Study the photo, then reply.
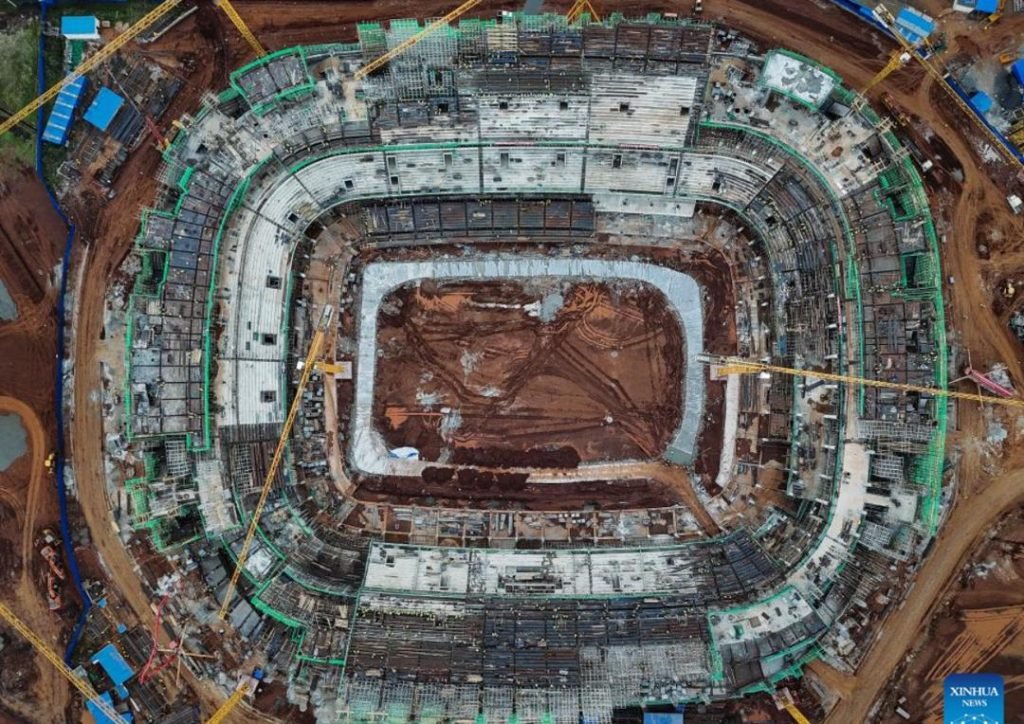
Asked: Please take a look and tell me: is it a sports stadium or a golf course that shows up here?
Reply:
sports stadium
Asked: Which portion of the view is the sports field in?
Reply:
center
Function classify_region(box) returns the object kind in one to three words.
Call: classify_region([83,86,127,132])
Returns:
shed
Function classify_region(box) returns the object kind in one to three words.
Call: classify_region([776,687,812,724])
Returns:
crane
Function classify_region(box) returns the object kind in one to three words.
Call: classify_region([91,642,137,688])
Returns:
shed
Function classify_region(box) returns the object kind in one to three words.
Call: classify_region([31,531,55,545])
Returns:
work vehicle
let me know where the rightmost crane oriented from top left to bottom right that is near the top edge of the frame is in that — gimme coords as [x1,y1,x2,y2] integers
[855,7,1024,165]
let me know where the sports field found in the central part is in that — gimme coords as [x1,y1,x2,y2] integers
[352,256,708,486]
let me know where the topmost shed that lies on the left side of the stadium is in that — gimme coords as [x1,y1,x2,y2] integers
[62,16,100,41]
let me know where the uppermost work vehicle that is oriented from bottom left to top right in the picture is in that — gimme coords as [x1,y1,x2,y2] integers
[982,9,1004,26]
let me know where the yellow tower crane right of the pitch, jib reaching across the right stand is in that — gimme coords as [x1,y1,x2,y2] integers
[694,362,1024,407]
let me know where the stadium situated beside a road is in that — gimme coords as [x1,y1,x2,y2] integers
[124,27,945,703]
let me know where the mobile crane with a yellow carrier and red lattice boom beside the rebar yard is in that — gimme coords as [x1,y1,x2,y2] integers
[77,42,170,155]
